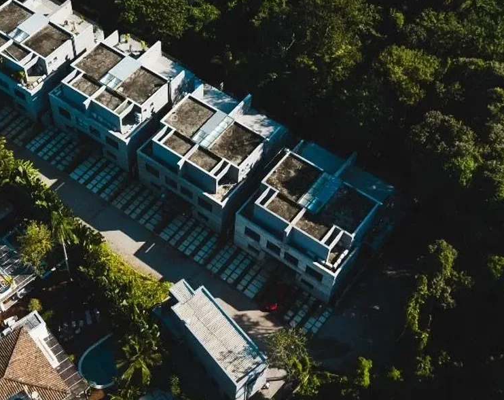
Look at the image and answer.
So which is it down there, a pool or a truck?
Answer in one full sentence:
The one in the frame is a pool.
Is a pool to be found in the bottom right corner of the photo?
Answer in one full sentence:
No, looking in the bottom right corner of the photo, there is no pool.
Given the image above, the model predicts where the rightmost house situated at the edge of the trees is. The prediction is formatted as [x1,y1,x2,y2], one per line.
[234,139,400,302]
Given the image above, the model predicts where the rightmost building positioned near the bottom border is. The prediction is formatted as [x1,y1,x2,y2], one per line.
[168,281,267,400]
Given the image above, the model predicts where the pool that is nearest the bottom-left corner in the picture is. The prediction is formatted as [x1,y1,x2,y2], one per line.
[77,334,137,389]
